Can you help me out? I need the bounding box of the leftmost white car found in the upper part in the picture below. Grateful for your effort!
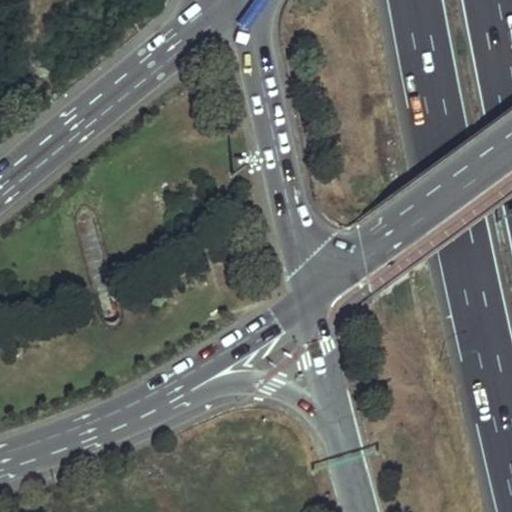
[146,34,166,51]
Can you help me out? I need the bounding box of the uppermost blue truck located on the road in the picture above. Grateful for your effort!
[234,0,268,46]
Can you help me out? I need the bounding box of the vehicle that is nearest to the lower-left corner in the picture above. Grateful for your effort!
[146,374,168,390]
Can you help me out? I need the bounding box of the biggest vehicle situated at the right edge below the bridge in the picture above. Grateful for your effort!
[472,382,492,422]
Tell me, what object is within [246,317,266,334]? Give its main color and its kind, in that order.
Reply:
white car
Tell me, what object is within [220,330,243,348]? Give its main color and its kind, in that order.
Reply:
white vehicle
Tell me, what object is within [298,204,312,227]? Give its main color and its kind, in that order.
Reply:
white car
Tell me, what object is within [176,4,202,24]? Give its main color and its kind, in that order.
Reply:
white vehicle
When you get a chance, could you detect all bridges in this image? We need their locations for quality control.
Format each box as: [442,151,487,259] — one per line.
[350,113,512,310]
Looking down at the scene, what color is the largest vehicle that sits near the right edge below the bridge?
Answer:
white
